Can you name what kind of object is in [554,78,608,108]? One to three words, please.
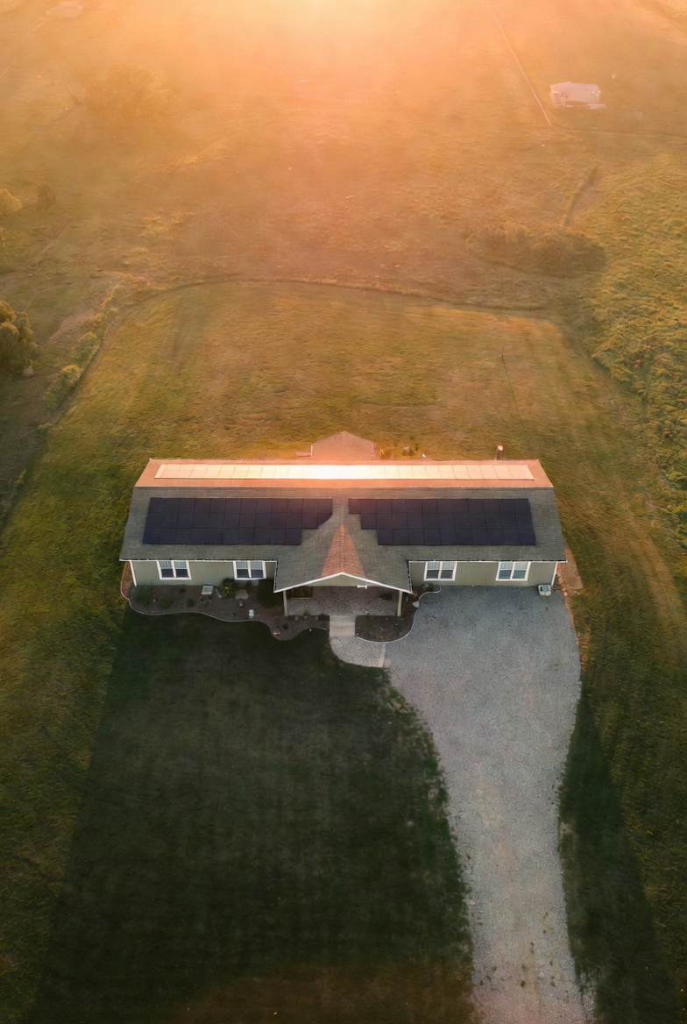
barn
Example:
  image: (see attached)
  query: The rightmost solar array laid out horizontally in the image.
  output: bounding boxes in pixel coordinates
[349,496,536,543]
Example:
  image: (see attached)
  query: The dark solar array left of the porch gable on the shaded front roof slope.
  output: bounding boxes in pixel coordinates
[143,496,332,543]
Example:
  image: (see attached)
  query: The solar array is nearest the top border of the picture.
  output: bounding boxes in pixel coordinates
[153,464,535,477]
